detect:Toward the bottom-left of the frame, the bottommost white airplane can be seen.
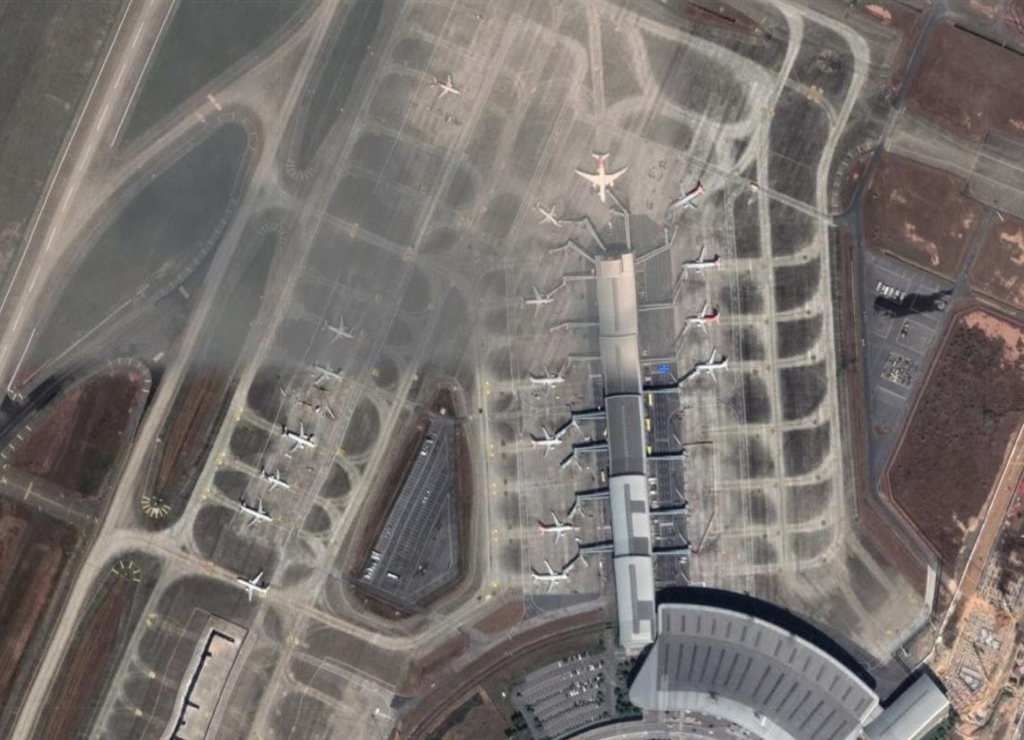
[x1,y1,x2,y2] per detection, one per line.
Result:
[235,569,267,599]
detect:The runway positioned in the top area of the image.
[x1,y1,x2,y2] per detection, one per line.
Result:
[0,0,174,424]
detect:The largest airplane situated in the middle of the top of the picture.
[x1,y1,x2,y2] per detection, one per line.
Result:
[574,149,627,202]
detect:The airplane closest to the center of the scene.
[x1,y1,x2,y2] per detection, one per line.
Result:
[531,364,565,395]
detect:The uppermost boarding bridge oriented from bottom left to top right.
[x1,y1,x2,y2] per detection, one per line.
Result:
[635,226,678,267]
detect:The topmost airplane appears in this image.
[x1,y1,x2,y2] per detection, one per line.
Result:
[431,76,461,99]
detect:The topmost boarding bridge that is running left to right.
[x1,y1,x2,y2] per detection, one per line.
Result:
[550,241,598,263]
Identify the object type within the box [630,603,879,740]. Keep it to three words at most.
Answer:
building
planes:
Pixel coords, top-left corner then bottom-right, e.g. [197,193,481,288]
[431,76,461,99]
[310,357,343,386]
[535,202,560,226]
[532,559,568,592]
[531,427,562,457]
[686,301,719,334]
[281,423,315,453]
[531,364,565,395]
[696,348,728,381]
[260,471,290,492]
[538,513,574,544]
[522,287,554,315]
[321,315,354,344]
[683,246,720,279]
[235,569,267,599]
[574,149,627,202]
[239,498,272,527]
